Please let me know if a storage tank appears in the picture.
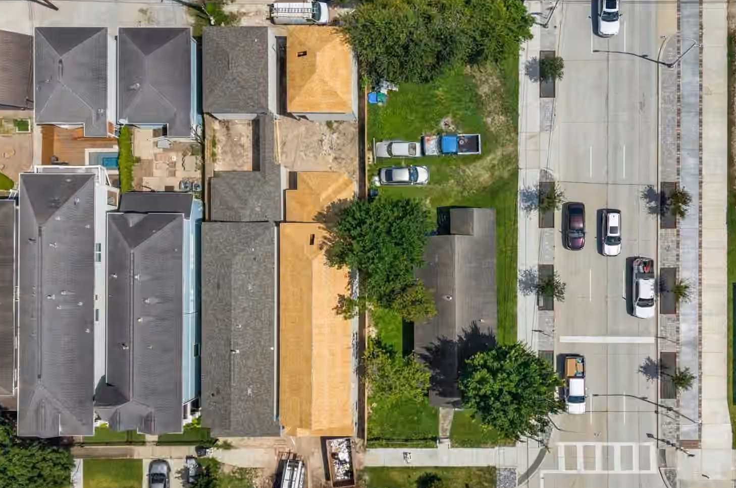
No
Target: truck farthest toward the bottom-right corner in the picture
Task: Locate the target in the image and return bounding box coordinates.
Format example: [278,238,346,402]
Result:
[563,354,589,414]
